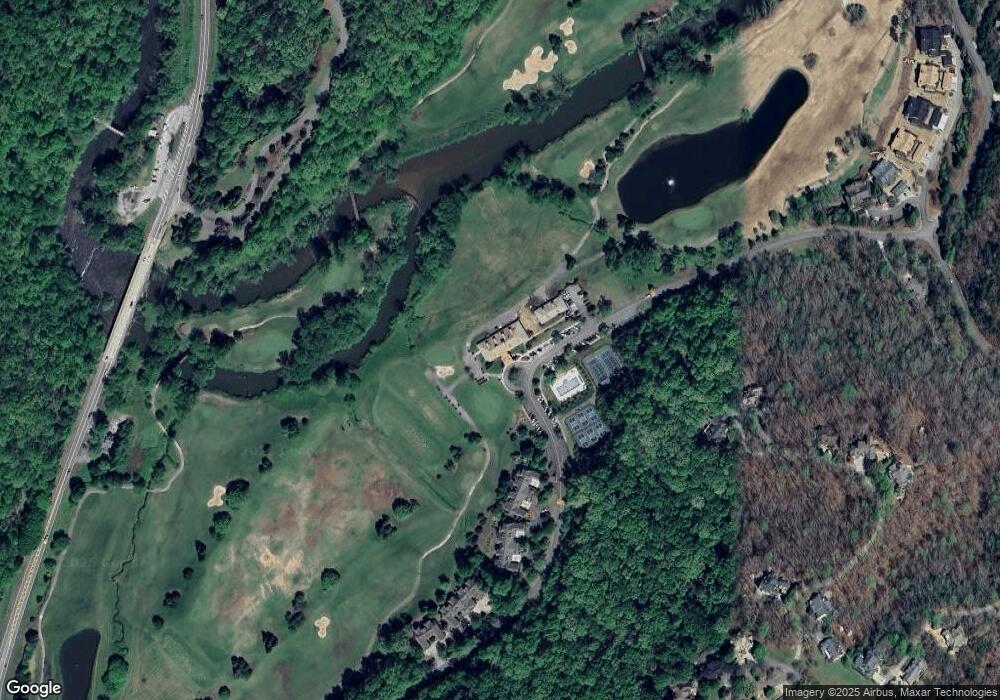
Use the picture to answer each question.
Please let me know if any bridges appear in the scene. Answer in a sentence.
Yes, there's a bridge here.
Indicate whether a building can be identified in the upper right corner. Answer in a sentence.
Yes, in the upper right corner there is a building.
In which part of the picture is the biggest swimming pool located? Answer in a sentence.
The biggest swimming pool sits in the center section of the image.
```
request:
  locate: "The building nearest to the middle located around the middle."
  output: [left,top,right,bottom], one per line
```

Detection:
[477,320,530,368]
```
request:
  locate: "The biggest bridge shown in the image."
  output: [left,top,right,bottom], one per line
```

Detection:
[106,226,165,348]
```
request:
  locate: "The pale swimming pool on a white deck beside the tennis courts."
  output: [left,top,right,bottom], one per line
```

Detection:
[552,367,586,402]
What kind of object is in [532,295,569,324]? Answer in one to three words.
building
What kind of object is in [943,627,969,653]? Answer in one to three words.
house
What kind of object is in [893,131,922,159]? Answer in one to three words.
house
